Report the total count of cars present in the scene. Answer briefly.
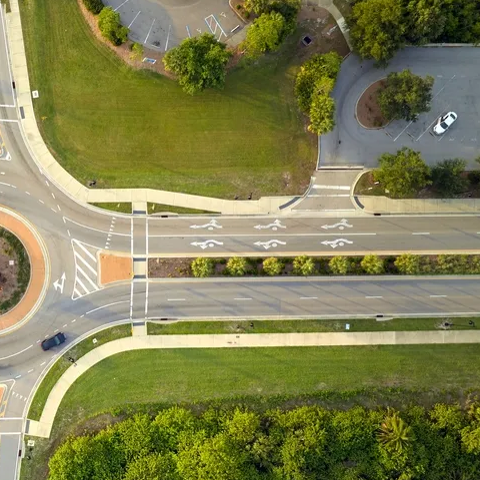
two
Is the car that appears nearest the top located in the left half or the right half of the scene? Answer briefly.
right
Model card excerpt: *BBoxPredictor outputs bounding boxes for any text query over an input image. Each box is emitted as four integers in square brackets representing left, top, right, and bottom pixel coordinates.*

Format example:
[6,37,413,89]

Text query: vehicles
[41,332,66,351]
[431,109,459,136]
